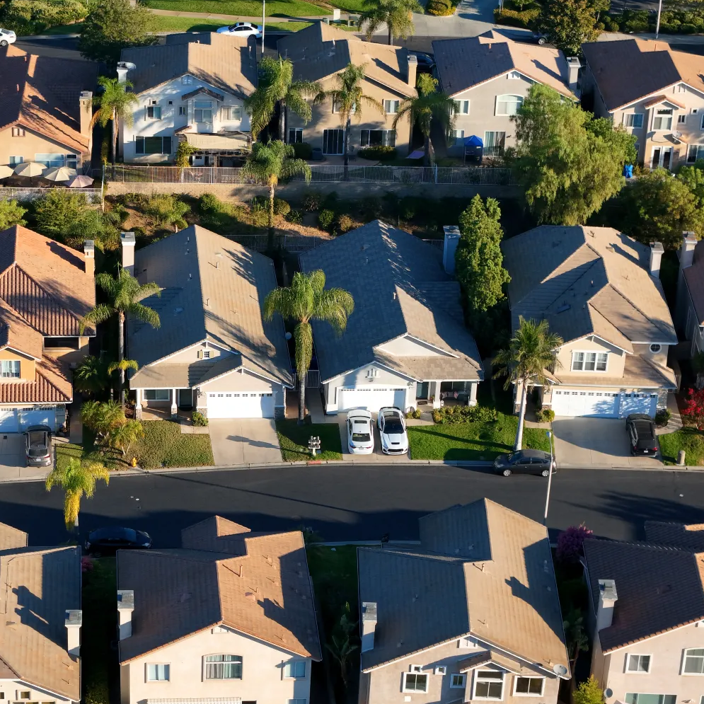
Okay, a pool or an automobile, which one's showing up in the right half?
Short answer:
automobile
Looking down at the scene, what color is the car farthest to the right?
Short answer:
black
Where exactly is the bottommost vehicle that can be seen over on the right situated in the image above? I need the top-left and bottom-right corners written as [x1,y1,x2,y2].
[492,449,558,480]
